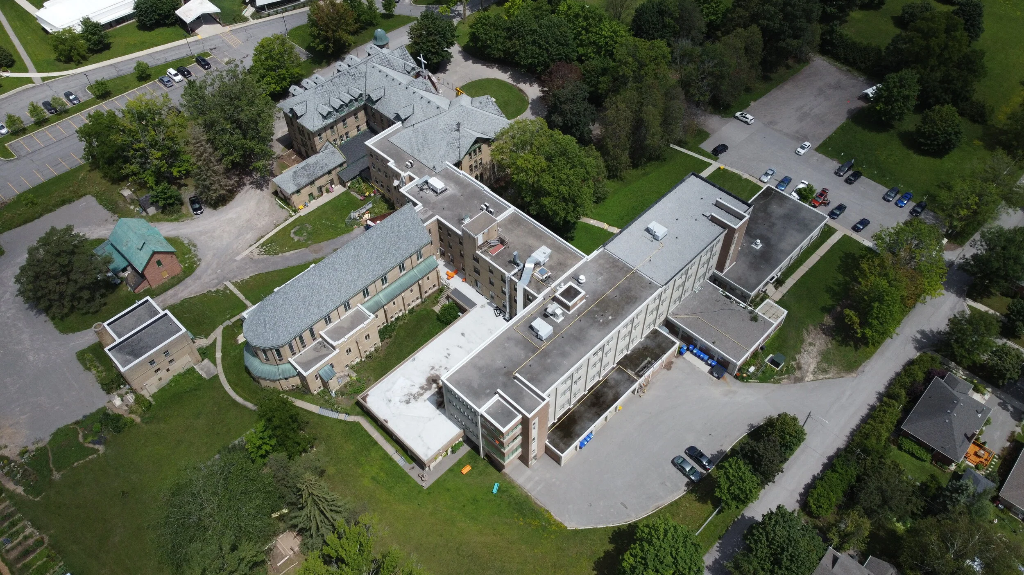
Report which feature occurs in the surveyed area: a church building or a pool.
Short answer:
church building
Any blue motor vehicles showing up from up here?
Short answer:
Yes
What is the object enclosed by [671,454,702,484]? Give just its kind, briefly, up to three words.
car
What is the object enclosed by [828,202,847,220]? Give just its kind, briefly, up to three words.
car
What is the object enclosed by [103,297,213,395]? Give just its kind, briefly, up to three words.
building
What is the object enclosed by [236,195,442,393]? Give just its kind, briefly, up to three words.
church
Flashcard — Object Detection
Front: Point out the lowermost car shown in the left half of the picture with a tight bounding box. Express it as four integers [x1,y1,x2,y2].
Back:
[190,196,202,214]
